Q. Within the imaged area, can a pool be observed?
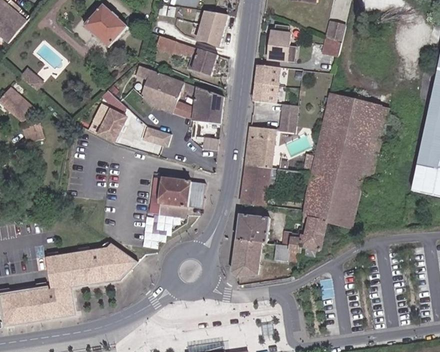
Yes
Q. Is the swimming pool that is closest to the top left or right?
left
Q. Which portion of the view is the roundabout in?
bottom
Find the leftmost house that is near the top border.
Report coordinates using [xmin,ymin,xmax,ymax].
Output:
[0,0,28,42]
